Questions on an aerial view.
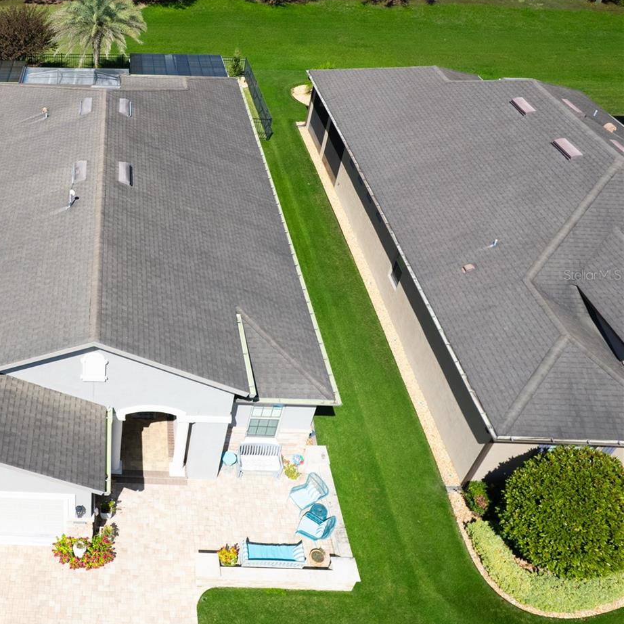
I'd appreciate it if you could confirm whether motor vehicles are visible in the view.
No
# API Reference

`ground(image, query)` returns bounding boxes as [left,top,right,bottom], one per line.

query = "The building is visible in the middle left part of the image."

[0,77,341,550]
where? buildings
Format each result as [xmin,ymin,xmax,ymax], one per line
[310,68,624,484]
[0,77,341,550]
